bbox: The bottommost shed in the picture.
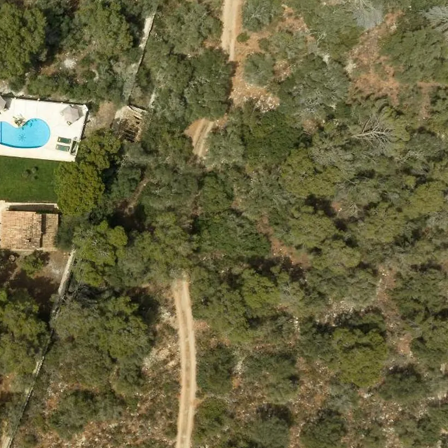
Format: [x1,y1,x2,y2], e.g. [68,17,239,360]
[1,211,58,250]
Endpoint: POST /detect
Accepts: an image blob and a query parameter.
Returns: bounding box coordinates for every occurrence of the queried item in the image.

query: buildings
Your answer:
[112,103,151,148]
[1,211,58,250]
